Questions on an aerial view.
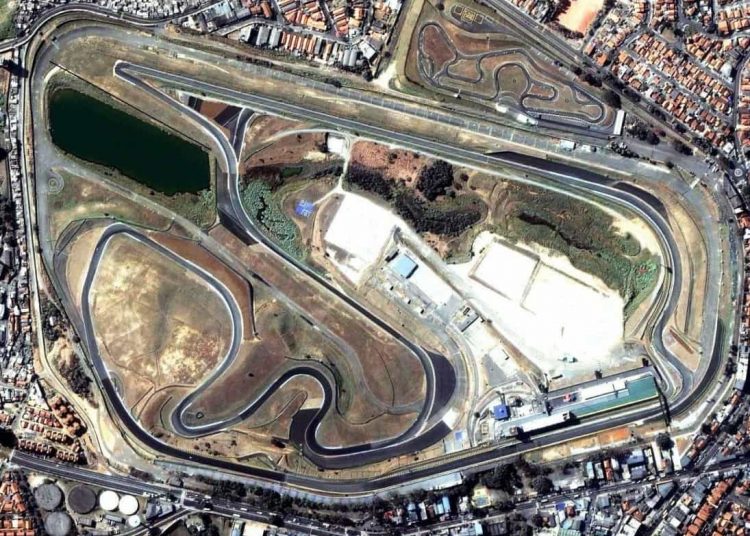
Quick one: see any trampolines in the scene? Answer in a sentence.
No, I find no trampoline anywhere in the image.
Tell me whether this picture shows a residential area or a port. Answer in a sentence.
This image shows a residential area.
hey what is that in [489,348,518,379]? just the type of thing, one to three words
building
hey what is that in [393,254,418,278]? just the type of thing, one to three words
building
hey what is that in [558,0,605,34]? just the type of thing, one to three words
soccer field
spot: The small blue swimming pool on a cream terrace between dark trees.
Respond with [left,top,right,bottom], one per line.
[472,487,491,507]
